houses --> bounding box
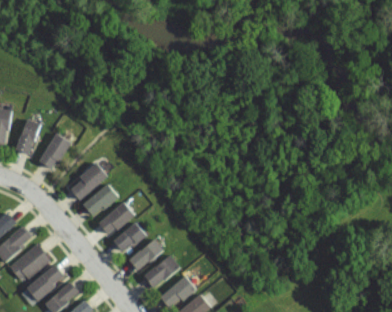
[144,256,181,288]
[83,184,120,218]
[99,204,136,236]
[18,118,44,158]
[26,266,68,301]
[0,212,18,240]
[72,164,108,204]
[72,300,97,312]
[128,239,166,273]
[46,282,84,312]
[162,277,196,308]
[42,134,72,172]
[0,108,14,148]
[114,223,148,253]
[16,244,53,280]
[0,226,36,263]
